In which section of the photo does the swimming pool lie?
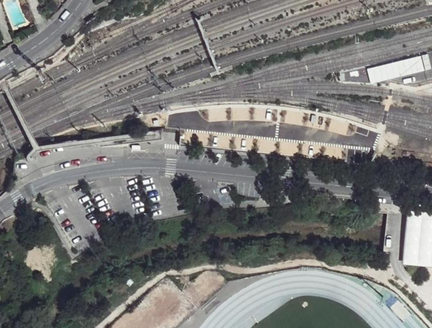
top left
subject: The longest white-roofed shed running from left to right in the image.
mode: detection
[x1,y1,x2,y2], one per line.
[367,56,426,84]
